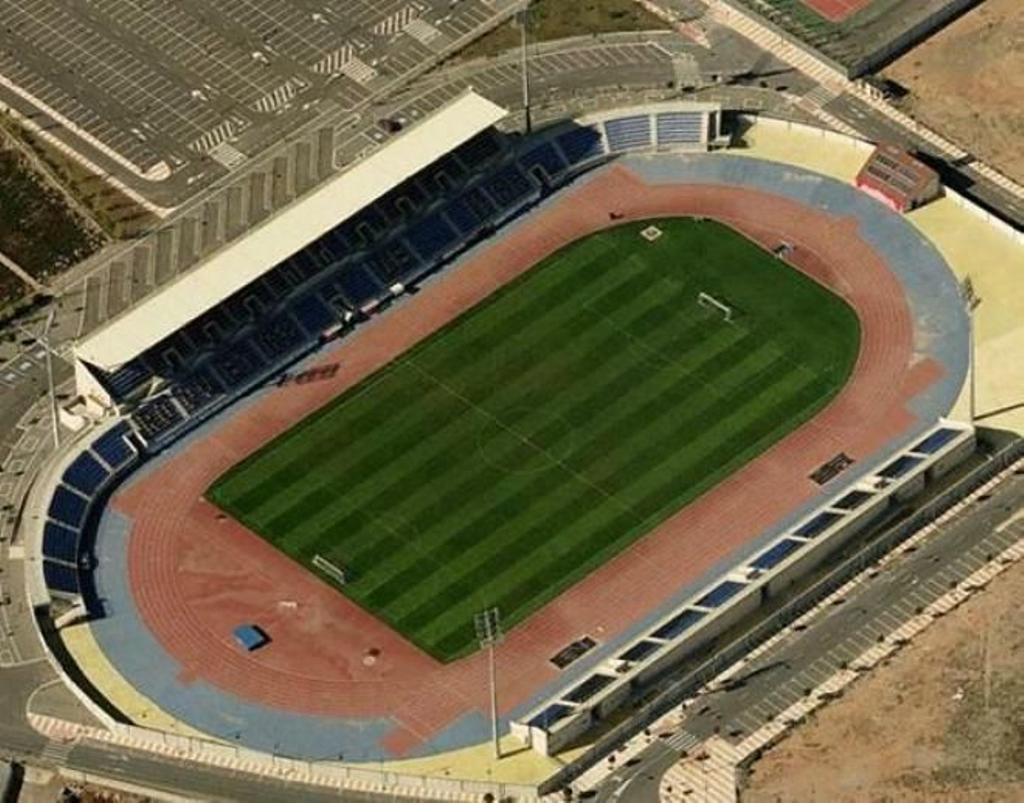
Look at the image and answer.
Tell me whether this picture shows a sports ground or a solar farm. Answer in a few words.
sports ground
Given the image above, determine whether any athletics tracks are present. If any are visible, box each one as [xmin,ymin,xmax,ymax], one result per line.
[126,178,918,715]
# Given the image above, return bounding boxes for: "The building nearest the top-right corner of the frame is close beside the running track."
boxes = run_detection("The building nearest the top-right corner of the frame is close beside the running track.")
[852,143,938,216]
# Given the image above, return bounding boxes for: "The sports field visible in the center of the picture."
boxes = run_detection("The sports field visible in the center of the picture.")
[204,214,857,662]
